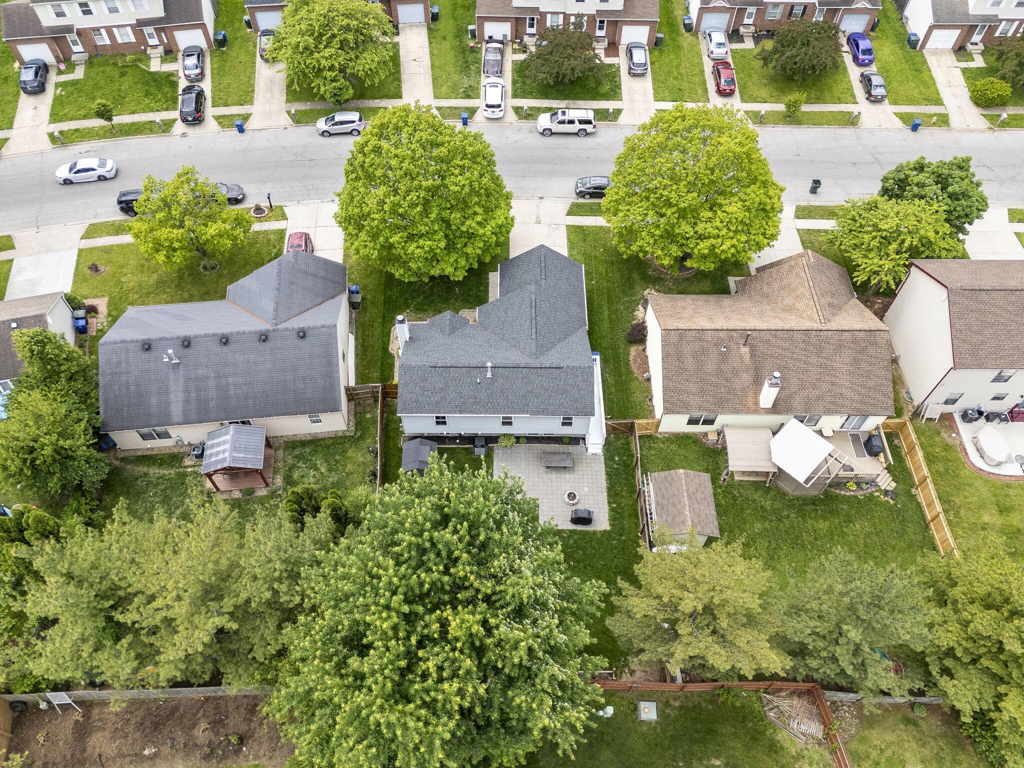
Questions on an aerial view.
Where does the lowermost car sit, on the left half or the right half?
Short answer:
left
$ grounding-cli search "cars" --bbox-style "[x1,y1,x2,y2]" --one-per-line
[537,107,598,138]
[18,59,52,91]
[53,158,119,186]
[111,185,175,215]
[481,78,506,115]
[859,70,890,102]
[315,109,367,137]
[482,34,505,75]
[577,175,619,200]
[712,61,737,94]
[256,30,281,59]
[704,28,729,59]
[845,34,876,65]
[180,47,206,80]
[178,86,207,122]
[626,43,649,74]
[287,227,314,255]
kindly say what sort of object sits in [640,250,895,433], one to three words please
house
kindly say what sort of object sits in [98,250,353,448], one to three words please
house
